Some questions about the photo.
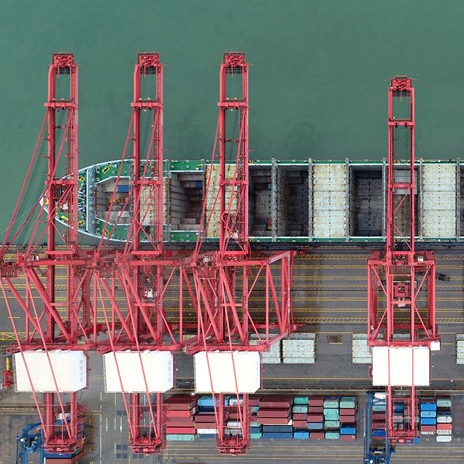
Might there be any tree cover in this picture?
No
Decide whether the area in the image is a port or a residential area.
port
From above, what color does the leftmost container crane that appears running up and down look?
red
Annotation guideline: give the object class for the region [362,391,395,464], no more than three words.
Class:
container crane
